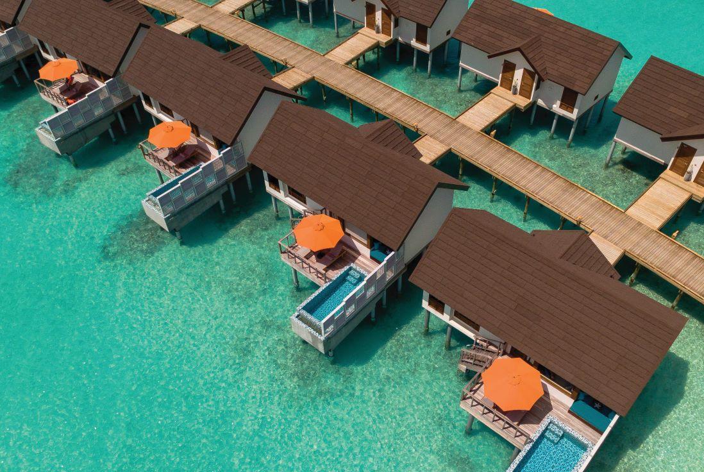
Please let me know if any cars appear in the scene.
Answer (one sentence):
No, the picture doesn't show any car.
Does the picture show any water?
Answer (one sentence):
Yes, there's water in this view.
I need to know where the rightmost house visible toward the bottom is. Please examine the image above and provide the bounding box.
[409,207,688,472]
